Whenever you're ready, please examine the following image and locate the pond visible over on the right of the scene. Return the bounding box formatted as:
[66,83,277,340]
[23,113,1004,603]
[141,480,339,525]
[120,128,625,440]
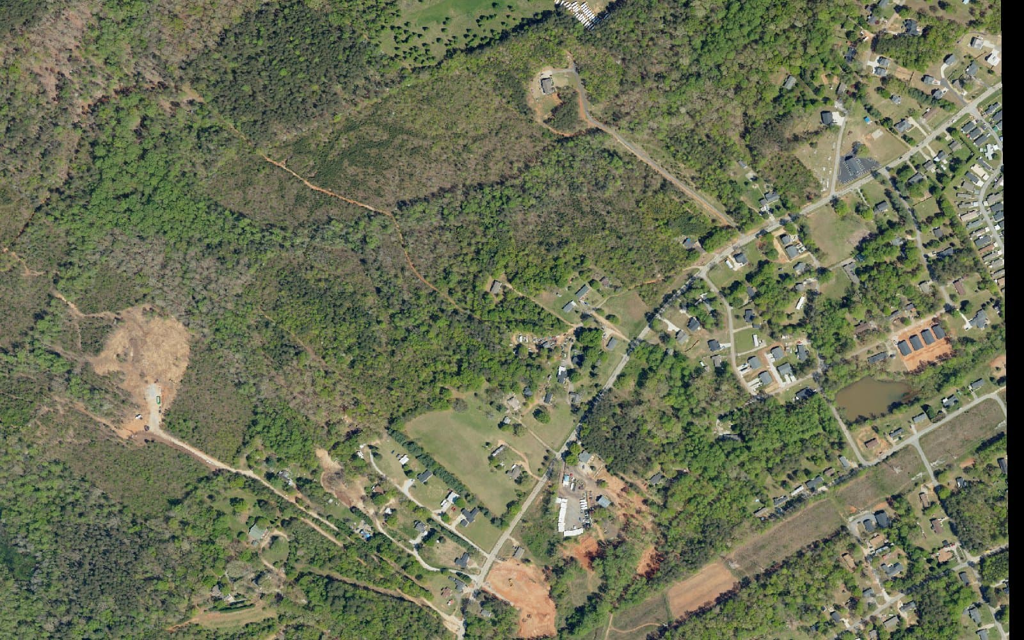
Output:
[835,376,912,420]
